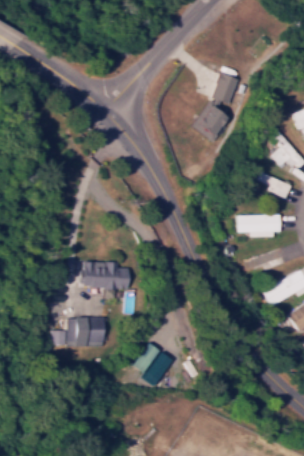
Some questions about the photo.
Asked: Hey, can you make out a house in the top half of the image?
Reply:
Yes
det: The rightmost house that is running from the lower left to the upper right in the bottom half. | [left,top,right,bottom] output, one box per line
[262,266,304,304]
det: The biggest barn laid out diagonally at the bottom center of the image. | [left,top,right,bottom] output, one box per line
[142,350,176,386]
